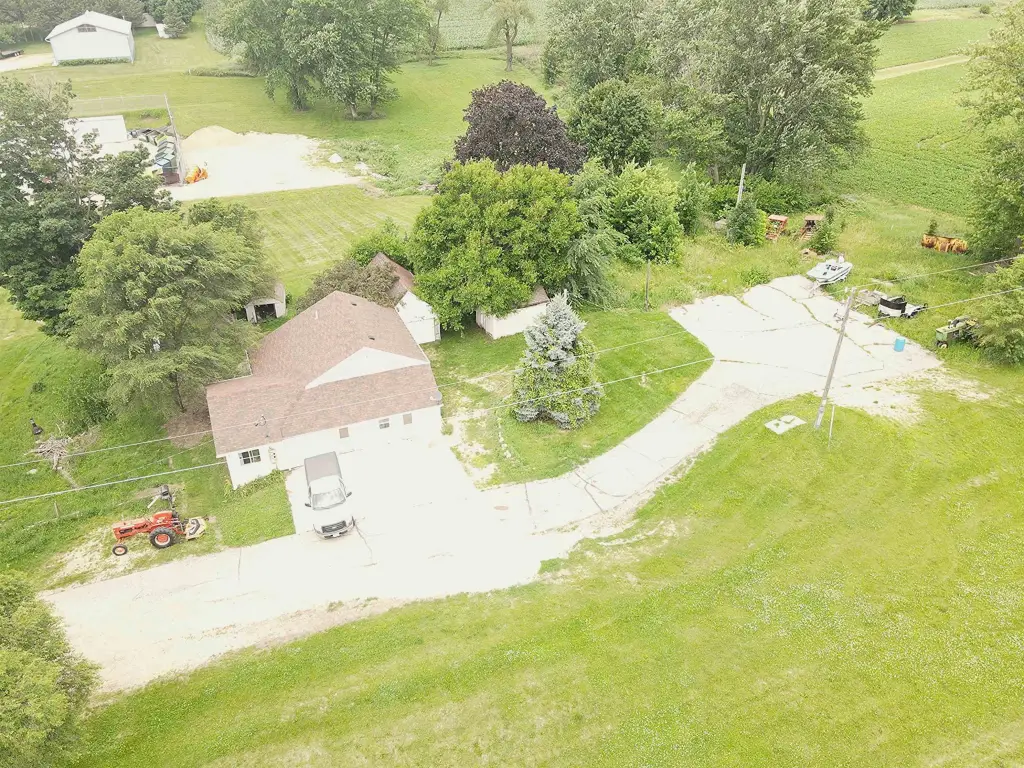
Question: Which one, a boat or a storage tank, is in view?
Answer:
boat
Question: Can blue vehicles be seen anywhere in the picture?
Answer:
No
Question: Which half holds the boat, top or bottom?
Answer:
top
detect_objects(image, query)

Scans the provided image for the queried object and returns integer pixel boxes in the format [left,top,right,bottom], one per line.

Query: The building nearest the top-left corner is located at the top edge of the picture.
[41,7,135,66]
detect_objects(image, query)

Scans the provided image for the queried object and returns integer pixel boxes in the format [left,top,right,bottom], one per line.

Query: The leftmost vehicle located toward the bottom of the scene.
[104,506,178,557]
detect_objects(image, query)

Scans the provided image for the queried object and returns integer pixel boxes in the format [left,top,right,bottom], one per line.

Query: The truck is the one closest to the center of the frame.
[297,449,354,539]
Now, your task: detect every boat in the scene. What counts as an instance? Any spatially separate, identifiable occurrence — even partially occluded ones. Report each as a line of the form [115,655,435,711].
[809,253,863,278]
